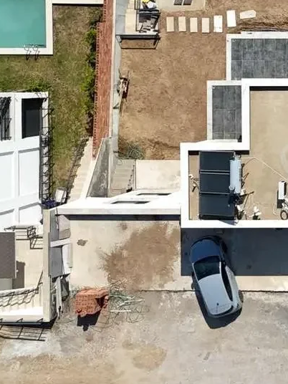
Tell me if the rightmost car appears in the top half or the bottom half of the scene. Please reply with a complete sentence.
Seen from above, the rightmost car lies in the bottom half of the view.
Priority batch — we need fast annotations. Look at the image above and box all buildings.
[180,32,288,228]
[0,92,52,216]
